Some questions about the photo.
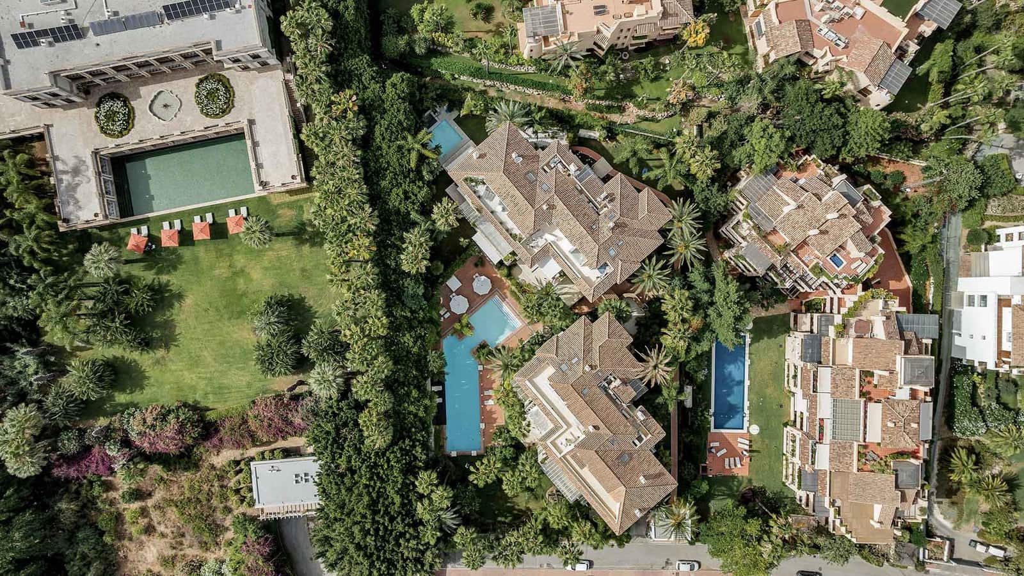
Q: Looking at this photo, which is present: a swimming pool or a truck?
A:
swimming pool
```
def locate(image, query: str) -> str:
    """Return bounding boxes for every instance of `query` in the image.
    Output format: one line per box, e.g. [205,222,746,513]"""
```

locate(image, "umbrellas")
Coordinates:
[449,294,468,313]
[747,425,758,434]
[192,222,210,240]
[226,214,244,234]
[472,275,491,294]
[161,229,179,247]
[126,231,149,254]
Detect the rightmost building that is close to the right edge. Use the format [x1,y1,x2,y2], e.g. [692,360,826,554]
[947,228,1024,374]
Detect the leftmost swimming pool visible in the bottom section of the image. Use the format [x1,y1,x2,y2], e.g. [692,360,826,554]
[442,296,521,452]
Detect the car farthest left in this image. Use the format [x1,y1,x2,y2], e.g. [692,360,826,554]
[566,561,589,574]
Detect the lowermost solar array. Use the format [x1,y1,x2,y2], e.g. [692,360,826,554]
[881,58,914,95]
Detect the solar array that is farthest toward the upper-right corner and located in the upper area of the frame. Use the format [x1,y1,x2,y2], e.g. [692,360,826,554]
[918,0,963,29]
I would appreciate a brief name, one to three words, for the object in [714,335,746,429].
swimming pool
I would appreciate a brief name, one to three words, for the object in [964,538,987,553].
car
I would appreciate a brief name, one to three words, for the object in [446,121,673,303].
house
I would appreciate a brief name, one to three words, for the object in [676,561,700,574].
vehicle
